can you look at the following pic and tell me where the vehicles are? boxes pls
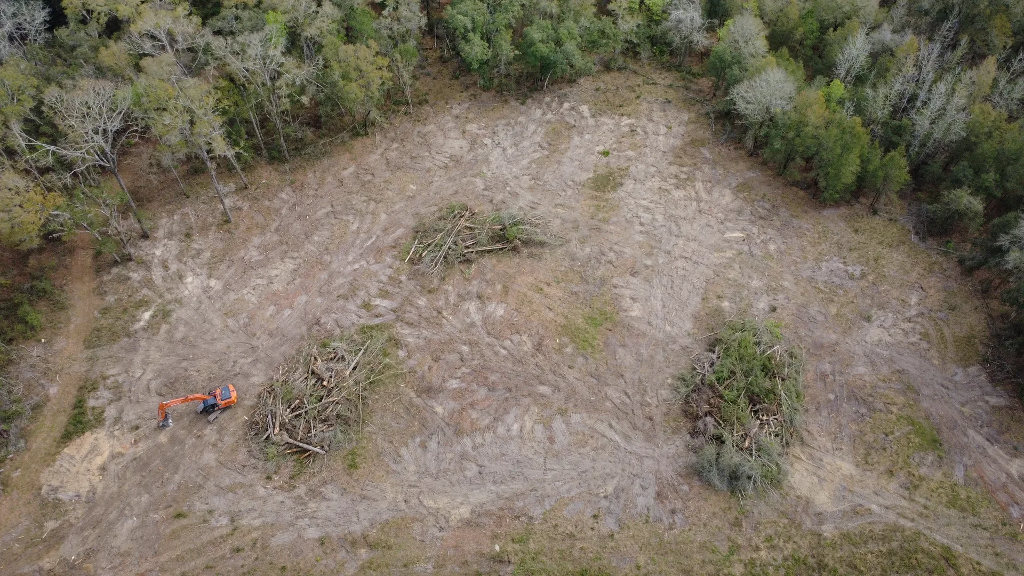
[151,384,239,429]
